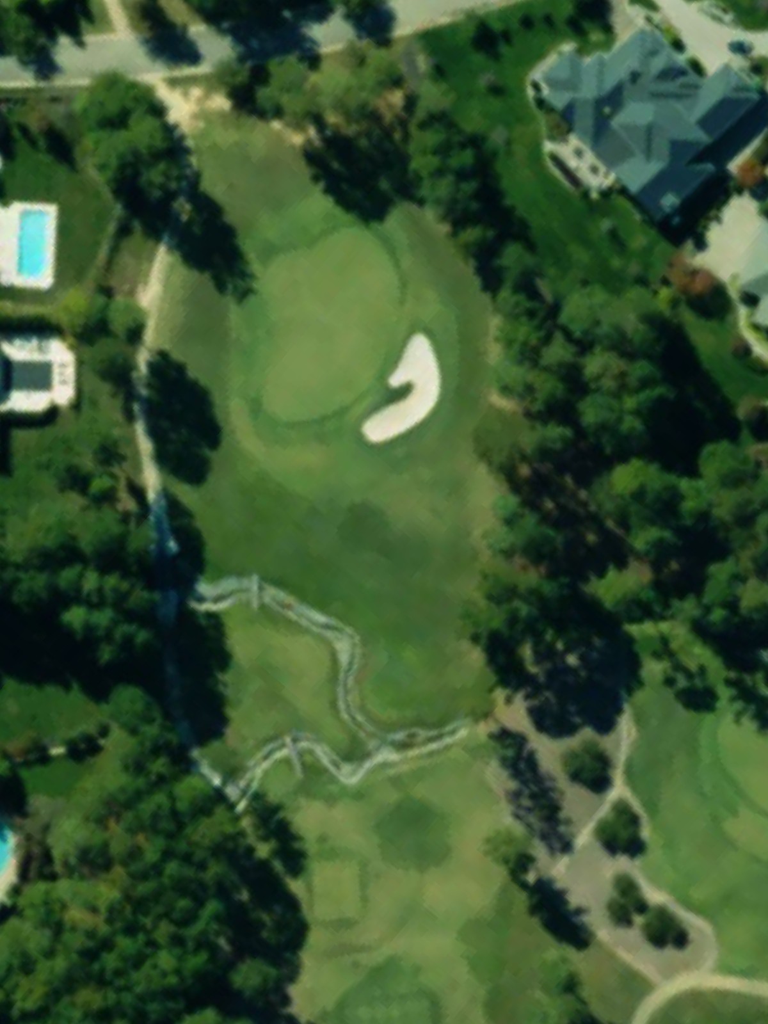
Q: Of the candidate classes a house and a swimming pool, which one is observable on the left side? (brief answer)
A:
swimming pool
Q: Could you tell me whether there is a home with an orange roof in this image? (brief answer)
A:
No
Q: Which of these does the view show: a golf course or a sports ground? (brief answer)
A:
golf course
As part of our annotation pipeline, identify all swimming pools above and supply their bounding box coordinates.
[0,813,15,902]
[0,335,76,412]
[0,202,59,289]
